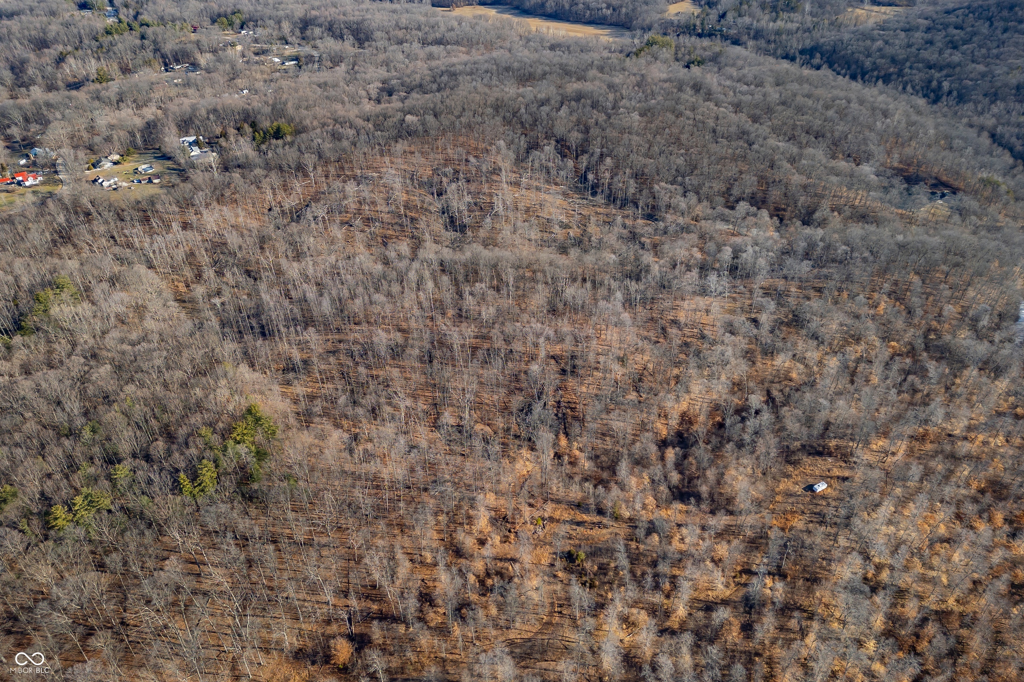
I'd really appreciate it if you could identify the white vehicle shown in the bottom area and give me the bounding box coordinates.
[813,480,829,495]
